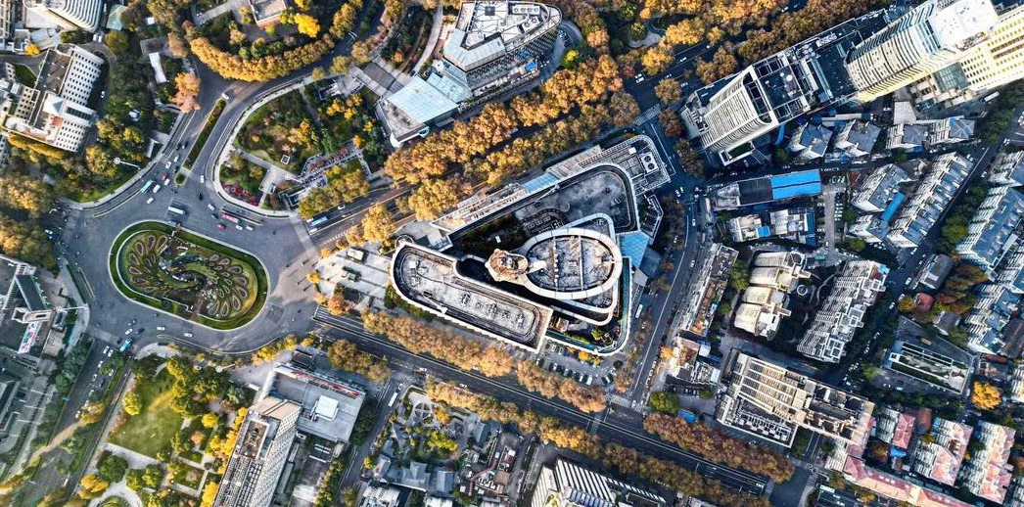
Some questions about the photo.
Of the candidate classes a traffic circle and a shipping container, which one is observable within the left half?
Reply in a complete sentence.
Visible within the left half is a traffic circle.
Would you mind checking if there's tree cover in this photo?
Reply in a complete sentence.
Yes, some tree cover is visible.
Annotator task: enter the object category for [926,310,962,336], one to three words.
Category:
house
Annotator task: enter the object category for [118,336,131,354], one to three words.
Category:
vehicle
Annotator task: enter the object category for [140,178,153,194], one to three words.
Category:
vehicle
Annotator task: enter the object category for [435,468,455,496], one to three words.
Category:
building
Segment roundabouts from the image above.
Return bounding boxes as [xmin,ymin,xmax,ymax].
[108,220,270,330]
